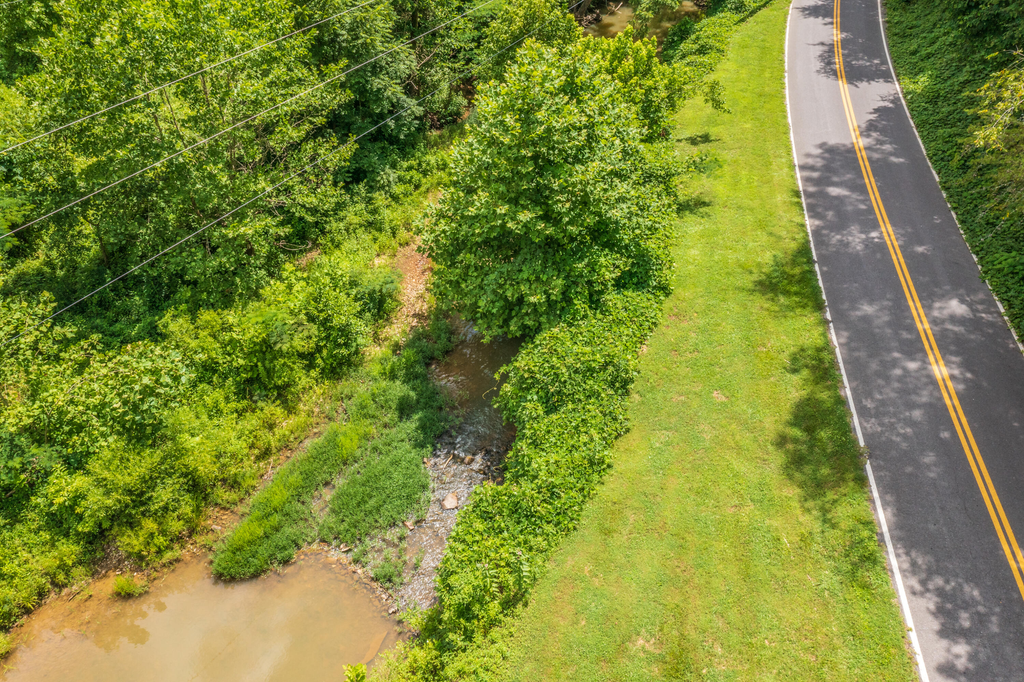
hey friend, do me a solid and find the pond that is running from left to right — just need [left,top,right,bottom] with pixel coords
[0,569,395,682]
